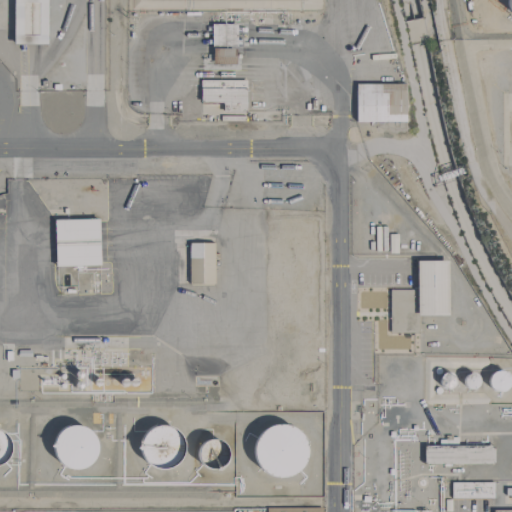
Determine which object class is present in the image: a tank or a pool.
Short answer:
tank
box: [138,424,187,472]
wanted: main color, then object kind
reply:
white storage tank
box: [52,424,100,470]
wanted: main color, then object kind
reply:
white storage tank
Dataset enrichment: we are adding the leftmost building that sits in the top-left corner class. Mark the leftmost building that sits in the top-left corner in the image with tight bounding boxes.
[15,0,49,44]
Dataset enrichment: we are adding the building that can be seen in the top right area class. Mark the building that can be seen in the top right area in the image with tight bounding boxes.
[358,83,410,122]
